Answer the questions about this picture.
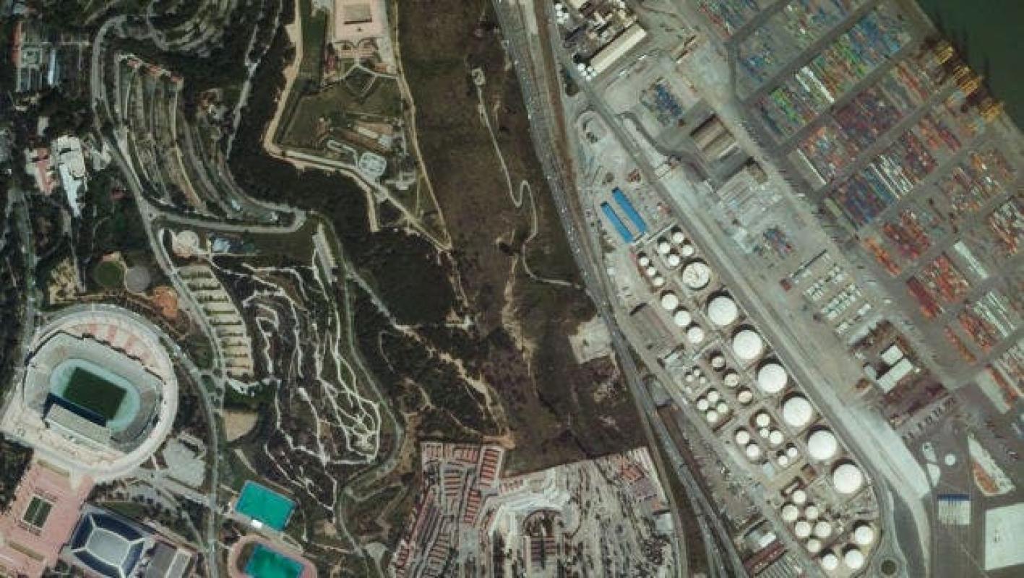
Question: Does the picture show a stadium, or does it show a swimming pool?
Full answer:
This aerial view contains a stadium.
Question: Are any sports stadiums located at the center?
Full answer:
No, at the center there is no sports stadium.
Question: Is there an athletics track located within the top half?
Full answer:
No, there's no athletics track to be seen within the top half.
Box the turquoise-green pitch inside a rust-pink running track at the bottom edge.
[230,533,319,578]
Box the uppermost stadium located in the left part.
[24,331,164,447]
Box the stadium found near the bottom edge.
[59,504,155,578]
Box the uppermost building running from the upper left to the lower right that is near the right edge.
[954,242,988,280]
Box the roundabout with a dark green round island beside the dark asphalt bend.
[873,552,904,578]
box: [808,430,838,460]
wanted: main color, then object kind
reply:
white storage tank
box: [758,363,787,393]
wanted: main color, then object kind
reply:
white storage tank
